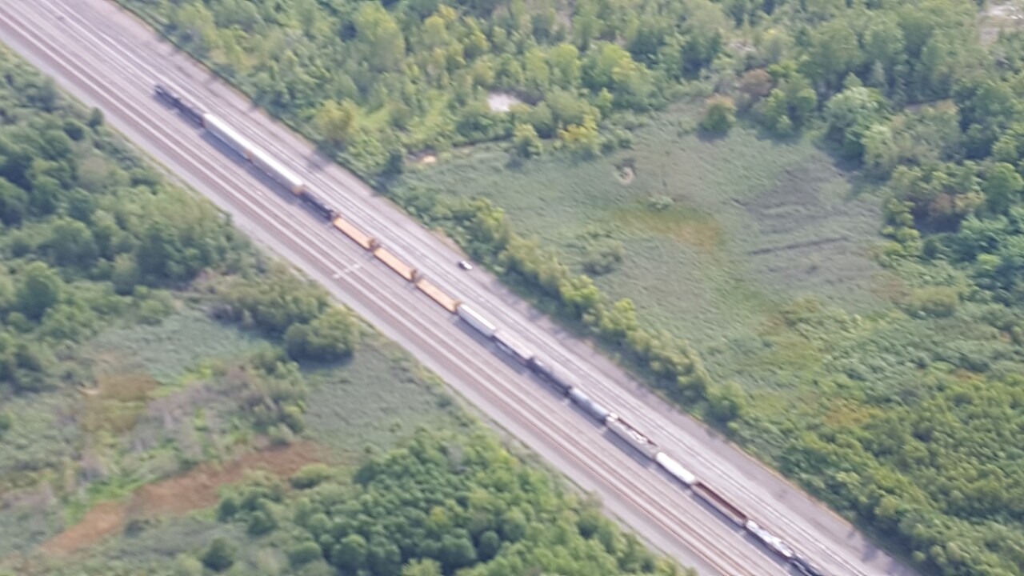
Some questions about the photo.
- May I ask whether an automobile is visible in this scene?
Yes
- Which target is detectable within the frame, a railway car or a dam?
railway car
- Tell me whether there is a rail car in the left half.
Yes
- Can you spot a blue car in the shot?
No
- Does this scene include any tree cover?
Yes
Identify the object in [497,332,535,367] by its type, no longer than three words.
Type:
rail car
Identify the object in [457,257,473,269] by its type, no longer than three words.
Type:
vehicle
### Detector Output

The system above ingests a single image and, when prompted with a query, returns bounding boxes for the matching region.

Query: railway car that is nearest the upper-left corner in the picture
[158,85,182,105]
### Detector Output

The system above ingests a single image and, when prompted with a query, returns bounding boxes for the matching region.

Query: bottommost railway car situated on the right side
[794,556,829,576]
